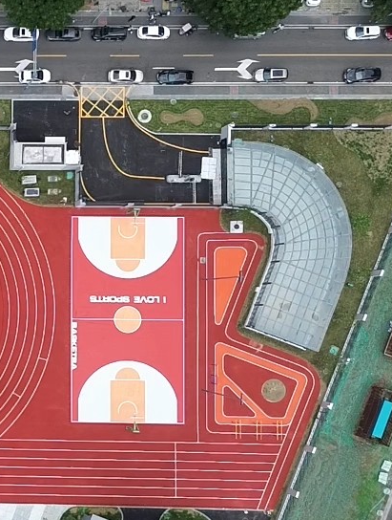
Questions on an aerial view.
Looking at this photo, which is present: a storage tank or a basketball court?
basketball court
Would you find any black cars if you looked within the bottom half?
No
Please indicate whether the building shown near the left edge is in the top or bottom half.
top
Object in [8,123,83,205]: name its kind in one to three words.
building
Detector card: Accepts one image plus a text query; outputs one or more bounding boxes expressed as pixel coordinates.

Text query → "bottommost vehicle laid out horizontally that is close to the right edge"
[342,67,380,85]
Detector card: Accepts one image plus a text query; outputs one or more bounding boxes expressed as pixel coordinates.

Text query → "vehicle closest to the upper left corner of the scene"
[0,26,37,44]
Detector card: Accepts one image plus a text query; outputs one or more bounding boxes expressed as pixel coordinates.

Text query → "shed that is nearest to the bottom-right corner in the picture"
[353,384,392,446]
